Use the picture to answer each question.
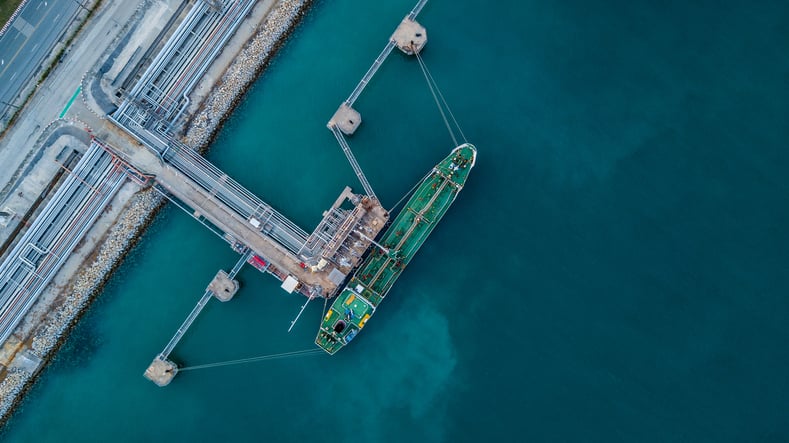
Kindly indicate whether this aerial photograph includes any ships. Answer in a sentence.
Yes, I can see a ship in this picture.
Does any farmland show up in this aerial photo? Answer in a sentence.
No, there's no farmland in this view.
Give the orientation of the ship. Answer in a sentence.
In this picture, the ship lies on a diagonal.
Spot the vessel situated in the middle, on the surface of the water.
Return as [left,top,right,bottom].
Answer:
[314,142,478,357]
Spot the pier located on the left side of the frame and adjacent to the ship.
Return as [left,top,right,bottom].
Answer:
[146,143,389,299]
